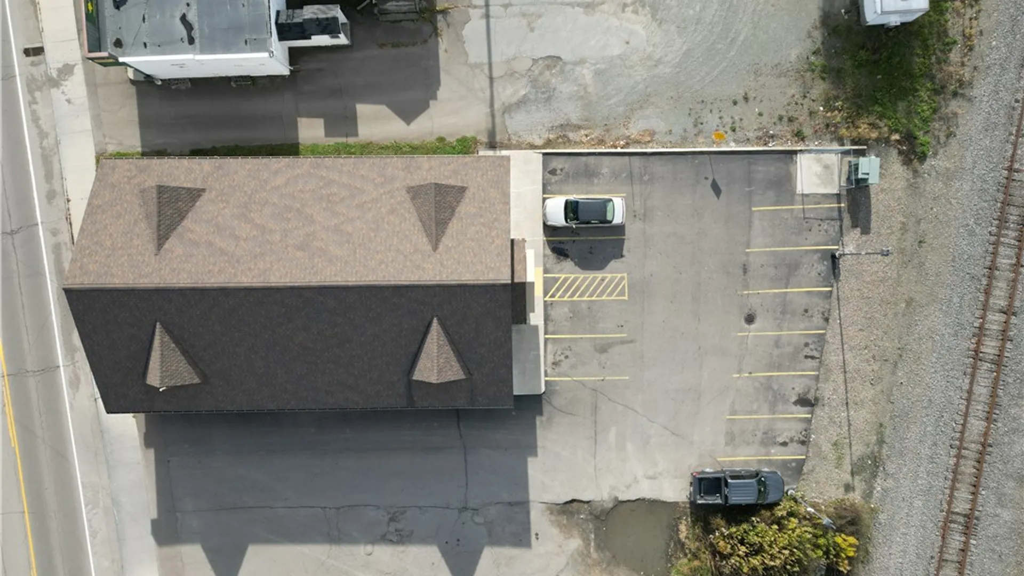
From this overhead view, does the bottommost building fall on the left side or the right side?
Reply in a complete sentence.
The bottommost building sits on the left side.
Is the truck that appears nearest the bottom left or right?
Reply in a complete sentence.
The truck that appears nearest the bottom sits on the right side.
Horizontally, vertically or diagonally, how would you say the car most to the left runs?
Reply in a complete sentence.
The car most to the left runs horizontally in the image.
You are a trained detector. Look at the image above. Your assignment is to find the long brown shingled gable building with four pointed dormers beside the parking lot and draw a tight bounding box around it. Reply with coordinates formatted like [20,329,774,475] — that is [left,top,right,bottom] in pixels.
[64,153,534,415]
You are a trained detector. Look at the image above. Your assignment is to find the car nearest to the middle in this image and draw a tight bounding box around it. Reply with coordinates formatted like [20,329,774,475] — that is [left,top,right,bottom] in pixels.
[542,194,626,228]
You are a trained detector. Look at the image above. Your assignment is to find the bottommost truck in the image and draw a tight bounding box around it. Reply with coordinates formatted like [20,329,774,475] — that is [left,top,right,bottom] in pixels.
[688,468,783,510]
